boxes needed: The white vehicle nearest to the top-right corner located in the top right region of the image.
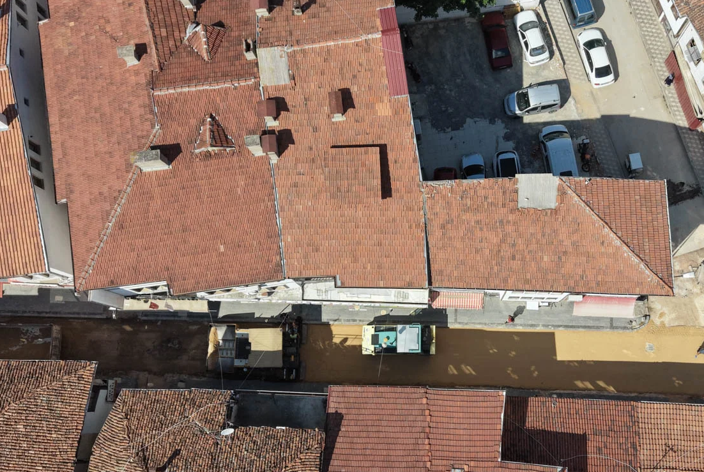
[577,28,615,90]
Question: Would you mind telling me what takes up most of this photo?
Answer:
buildings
